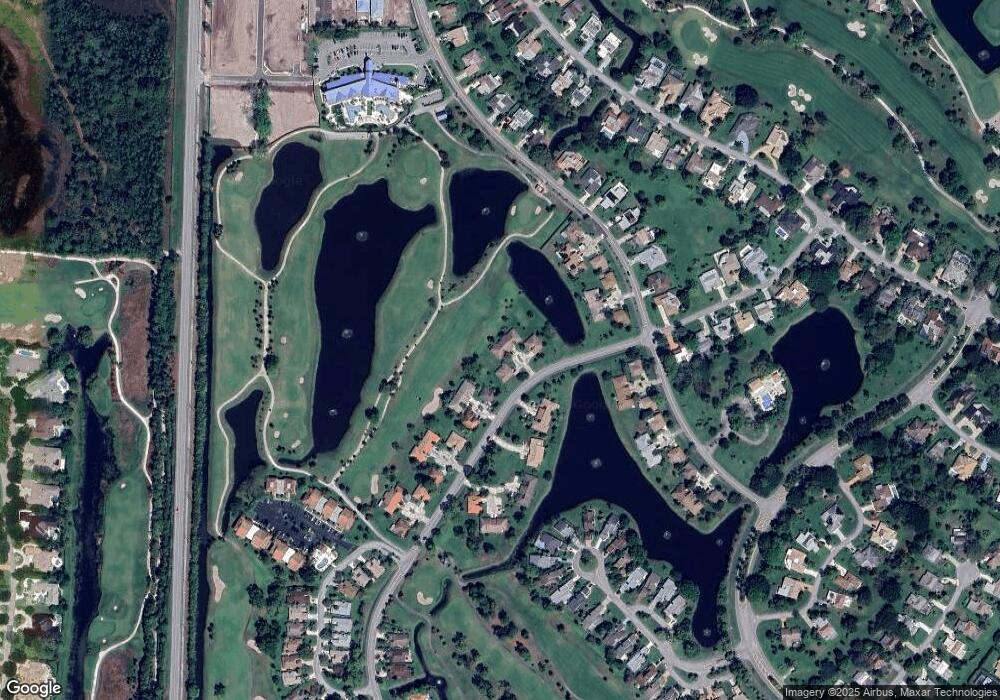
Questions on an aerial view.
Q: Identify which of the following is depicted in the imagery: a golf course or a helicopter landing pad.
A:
golf course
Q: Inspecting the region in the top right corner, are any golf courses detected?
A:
Yes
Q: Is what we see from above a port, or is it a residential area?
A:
residential area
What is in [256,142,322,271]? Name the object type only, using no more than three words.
pond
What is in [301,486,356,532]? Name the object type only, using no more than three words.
building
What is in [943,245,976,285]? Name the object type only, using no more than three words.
house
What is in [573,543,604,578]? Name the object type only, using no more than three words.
roundabout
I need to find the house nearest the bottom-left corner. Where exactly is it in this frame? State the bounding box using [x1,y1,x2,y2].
[13,660,54,688]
